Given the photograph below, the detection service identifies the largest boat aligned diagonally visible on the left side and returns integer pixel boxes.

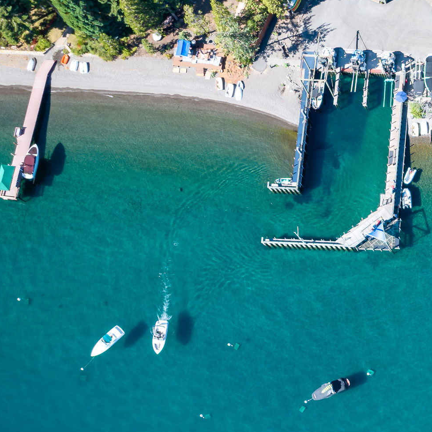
[90,325,125,356]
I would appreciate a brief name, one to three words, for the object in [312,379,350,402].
boat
